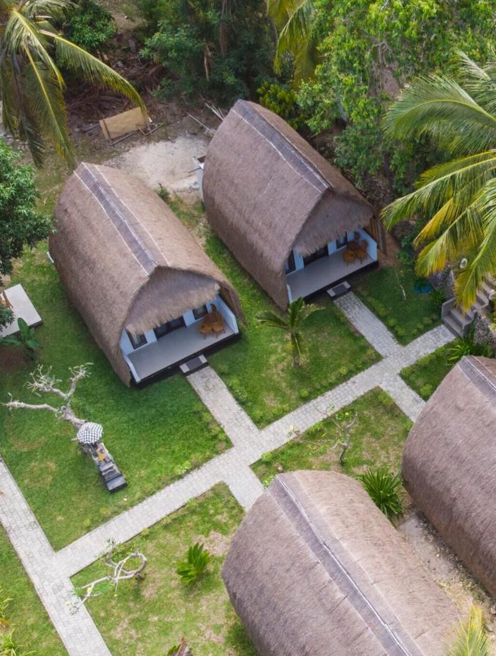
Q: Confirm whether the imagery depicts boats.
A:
No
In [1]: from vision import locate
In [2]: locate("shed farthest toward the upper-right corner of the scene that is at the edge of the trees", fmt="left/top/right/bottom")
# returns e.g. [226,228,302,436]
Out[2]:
[201,103,391,302]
